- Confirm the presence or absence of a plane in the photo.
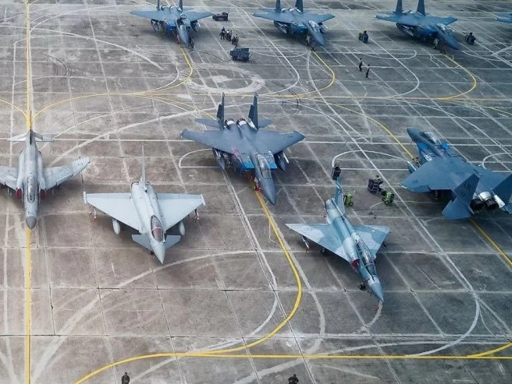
Yes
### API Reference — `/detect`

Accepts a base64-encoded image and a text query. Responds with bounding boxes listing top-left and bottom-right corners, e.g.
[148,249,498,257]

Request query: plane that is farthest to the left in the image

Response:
[0,130,88,229]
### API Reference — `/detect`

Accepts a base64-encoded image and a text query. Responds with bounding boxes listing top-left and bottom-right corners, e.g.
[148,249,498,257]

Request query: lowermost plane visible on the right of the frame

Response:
[286,180,387,308]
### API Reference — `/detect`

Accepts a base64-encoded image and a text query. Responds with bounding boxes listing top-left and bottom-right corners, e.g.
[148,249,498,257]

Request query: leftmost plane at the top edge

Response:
[129,0,211,47]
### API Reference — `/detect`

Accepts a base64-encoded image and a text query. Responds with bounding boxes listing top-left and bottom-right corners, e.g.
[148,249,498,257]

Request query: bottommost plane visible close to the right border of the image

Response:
[401,130,512,223]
